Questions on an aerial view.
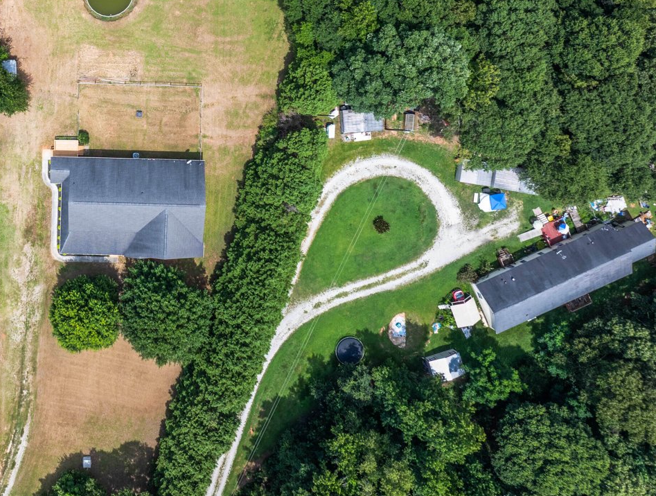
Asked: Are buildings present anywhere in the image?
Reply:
Yes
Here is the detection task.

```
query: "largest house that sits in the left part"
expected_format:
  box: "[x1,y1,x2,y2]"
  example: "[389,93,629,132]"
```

[50,156,207,261]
